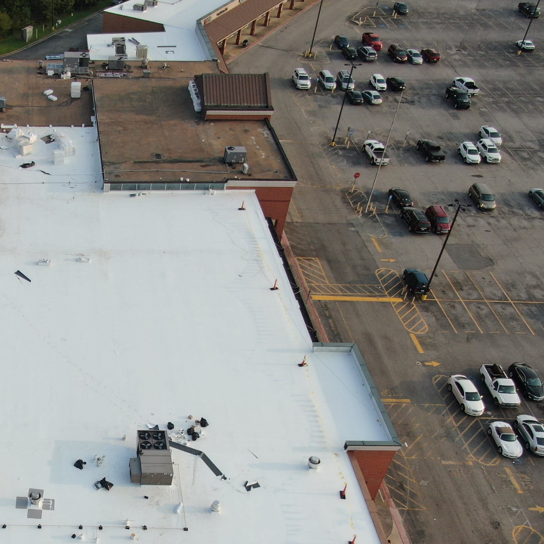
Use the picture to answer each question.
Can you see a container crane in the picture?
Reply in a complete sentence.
No, this view has no container crane in it.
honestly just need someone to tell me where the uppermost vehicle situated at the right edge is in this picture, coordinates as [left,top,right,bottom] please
[517,3,541,19]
